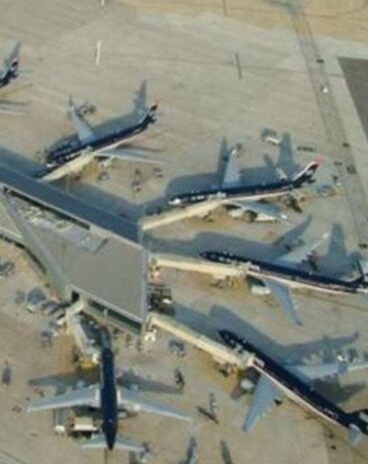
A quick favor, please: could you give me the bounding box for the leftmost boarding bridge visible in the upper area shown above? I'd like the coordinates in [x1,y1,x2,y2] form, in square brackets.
[37,143,94,188]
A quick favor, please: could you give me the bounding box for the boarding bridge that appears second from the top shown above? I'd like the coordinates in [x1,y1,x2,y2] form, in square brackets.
[136,188,232,234]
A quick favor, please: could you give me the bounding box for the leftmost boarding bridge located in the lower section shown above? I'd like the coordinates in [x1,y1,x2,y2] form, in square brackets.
[63,296,111,365]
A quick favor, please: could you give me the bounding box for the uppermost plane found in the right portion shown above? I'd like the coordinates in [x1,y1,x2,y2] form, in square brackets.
[169,150,324,225]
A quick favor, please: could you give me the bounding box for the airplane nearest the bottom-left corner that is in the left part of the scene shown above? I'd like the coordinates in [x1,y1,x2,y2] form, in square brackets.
[26,347,193,452]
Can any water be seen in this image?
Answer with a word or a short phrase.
No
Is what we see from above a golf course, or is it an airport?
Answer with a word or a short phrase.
airport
